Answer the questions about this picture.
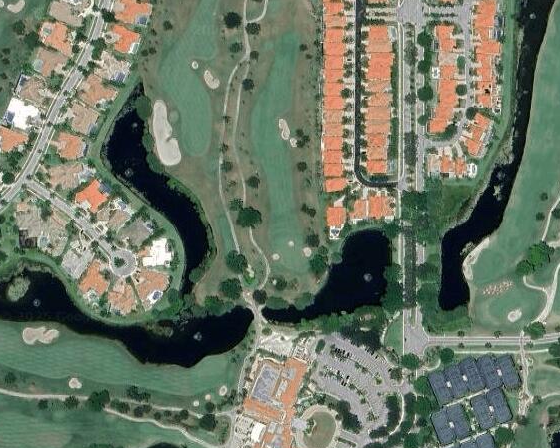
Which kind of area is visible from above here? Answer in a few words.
residential area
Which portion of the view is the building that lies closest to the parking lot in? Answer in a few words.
bottom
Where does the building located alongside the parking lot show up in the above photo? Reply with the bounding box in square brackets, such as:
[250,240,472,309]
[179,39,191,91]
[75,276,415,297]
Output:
[241,356,310,448]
